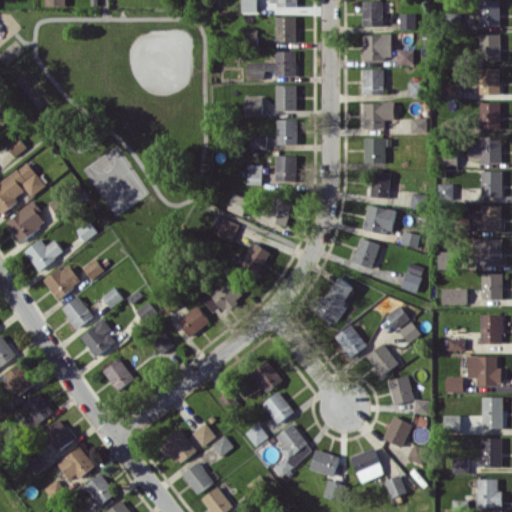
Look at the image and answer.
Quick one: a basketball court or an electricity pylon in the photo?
basketball court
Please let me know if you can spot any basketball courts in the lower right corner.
No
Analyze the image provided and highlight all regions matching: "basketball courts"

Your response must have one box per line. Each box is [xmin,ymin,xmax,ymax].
[84,149,149,216]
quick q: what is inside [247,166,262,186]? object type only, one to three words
building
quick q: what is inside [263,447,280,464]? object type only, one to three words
swimming pool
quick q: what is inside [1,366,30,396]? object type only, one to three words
house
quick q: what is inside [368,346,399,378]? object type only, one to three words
house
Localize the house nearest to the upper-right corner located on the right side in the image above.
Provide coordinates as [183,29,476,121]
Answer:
[482,3,501,27]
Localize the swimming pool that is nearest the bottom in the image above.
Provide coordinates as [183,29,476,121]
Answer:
[25,486,39,500]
